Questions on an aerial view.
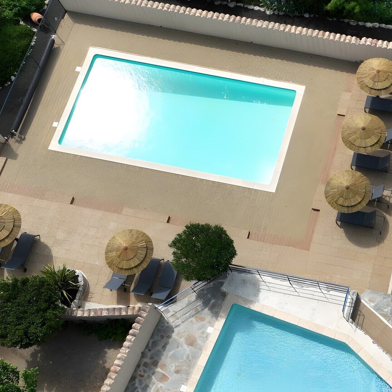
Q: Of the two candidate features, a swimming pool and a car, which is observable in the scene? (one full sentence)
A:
I can see a swimming pool in this picture.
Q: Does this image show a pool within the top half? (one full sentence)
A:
Yes, within the top half there is a pool.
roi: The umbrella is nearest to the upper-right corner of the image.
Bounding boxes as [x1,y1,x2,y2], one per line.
[354,60,392,103]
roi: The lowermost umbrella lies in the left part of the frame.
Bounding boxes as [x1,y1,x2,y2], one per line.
[103,231,154,278]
